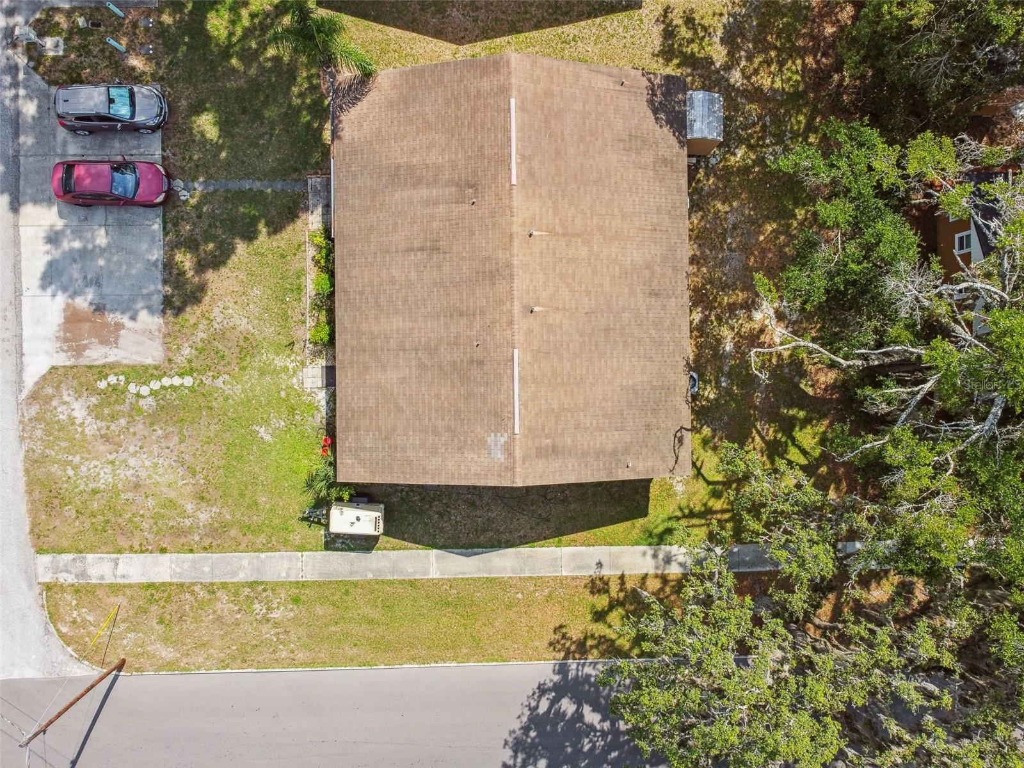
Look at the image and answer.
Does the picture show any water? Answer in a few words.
No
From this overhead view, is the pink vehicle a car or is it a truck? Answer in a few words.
car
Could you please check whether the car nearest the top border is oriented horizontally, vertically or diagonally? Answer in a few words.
horizontally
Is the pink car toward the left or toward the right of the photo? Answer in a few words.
left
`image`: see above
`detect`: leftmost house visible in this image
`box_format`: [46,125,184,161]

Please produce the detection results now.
[330,54,689,486]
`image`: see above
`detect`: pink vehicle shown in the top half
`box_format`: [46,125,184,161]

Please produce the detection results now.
[52,153,173,207]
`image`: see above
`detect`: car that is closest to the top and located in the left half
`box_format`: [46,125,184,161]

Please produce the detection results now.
[53,78,170,134]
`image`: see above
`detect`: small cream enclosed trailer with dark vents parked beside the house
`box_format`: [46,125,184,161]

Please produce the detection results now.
[307,500,385,537]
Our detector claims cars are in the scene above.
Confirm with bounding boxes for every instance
[53,78,170,134]
[52,153,173,207]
